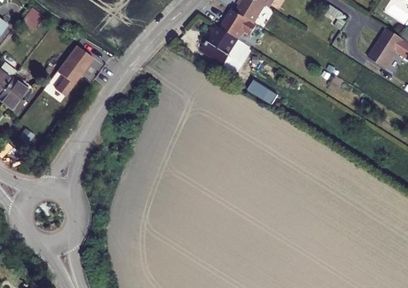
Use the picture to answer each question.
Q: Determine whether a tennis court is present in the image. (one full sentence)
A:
No, I can't see a single tennis court in this photo.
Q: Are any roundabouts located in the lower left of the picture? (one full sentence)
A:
Yes, there is a roundabout in the lower left of the picture.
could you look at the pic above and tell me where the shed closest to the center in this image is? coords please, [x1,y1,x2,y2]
[248,80,278,105]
